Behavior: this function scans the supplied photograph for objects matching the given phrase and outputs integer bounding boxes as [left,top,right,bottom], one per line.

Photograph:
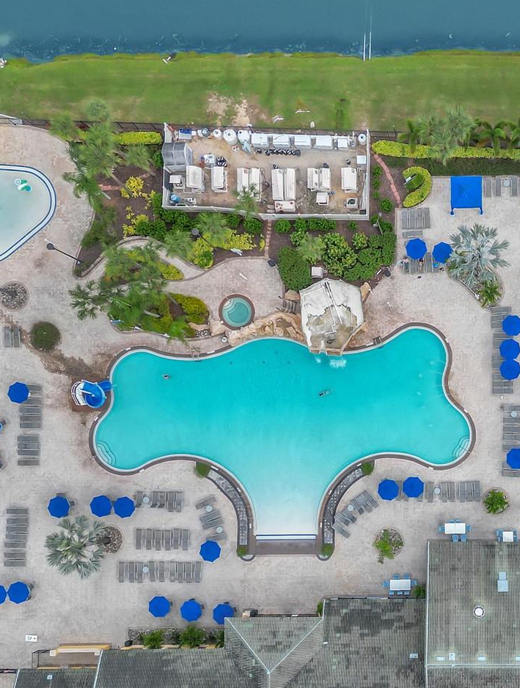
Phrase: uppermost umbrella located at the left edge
[8,381,33,404]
